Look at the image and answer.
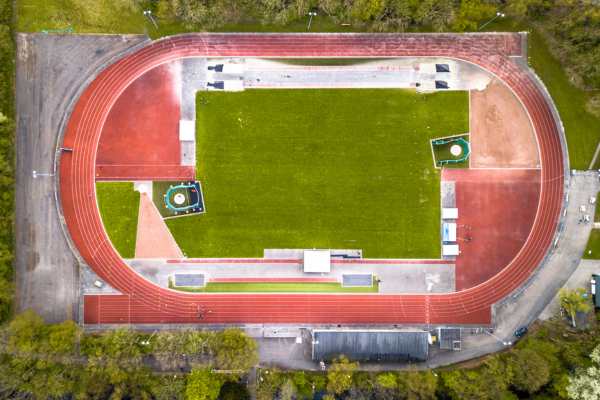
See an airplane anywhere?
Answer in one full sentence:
No, I can see no airplane in this picture.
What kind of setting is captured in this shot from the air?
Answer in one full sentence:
The area seen from above is a sports ground.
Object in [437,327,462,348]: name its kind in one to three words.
building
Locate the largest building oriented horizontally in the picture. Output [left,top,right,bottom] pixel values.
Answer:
[309,327,429,362]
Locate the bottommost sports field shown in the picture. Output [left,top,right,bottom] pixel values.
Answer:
[163,88,471,259]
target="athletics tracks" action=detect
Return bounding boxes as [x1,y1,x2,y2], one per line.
[60,32,570,324]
